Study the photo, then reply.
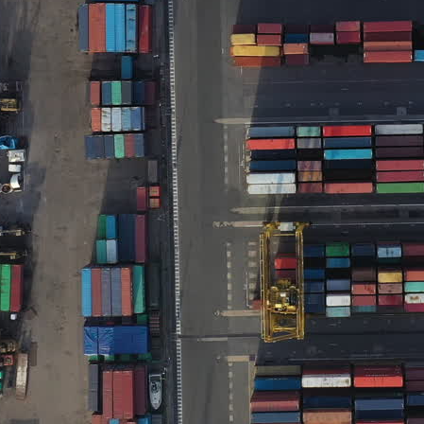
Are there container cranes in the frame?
Yes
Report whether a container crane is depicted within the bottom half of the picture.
Yes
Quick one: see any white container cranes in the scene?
No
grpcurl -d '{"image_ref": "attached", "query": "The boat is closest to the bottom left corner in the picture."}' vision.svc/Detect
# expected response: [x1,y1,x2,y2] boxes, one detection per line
[149,374,162,411]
